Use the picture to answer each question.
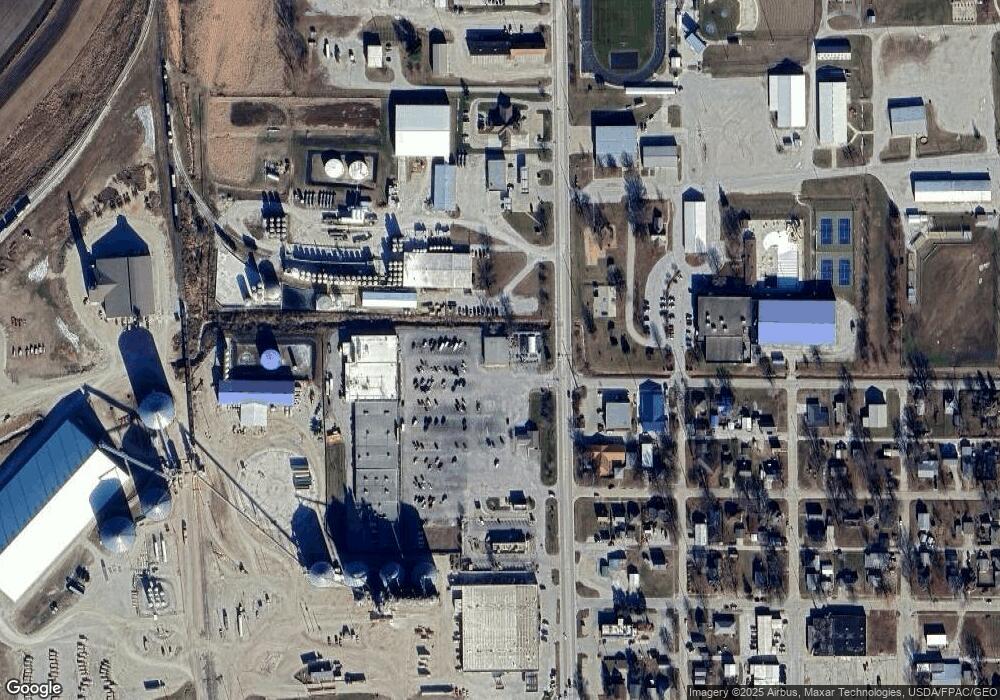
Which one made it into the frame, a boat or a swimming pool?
swimming pool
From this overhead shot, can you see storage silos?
Yes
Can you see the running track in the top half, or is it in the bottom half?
top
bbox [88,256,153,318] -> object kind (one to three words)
shed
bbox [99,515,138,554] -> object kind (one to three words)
silo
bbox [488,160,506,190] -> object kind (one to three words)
building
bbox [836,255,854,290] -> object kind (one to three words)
tennis court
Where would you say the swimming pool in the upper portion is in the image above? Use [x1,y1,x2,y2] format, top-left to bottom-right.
[748,220,803,286]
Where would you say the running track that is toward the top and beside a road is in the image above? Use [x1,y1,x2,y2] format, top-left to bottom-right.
[580,0,668,84]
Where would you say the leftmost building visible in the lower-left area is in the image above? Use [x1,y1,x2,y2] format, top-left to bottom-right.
[0,418,130,602]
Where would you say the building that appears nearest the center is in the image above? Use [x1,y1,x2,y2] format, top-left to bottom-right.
[484,338,509,366]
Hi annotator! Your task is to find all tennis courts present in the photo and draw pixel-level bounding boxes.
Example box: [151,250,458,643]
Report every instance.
[836,214,854,249]
[817,214,836,249]
[817,255,836,290]
[836,255,854,290]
